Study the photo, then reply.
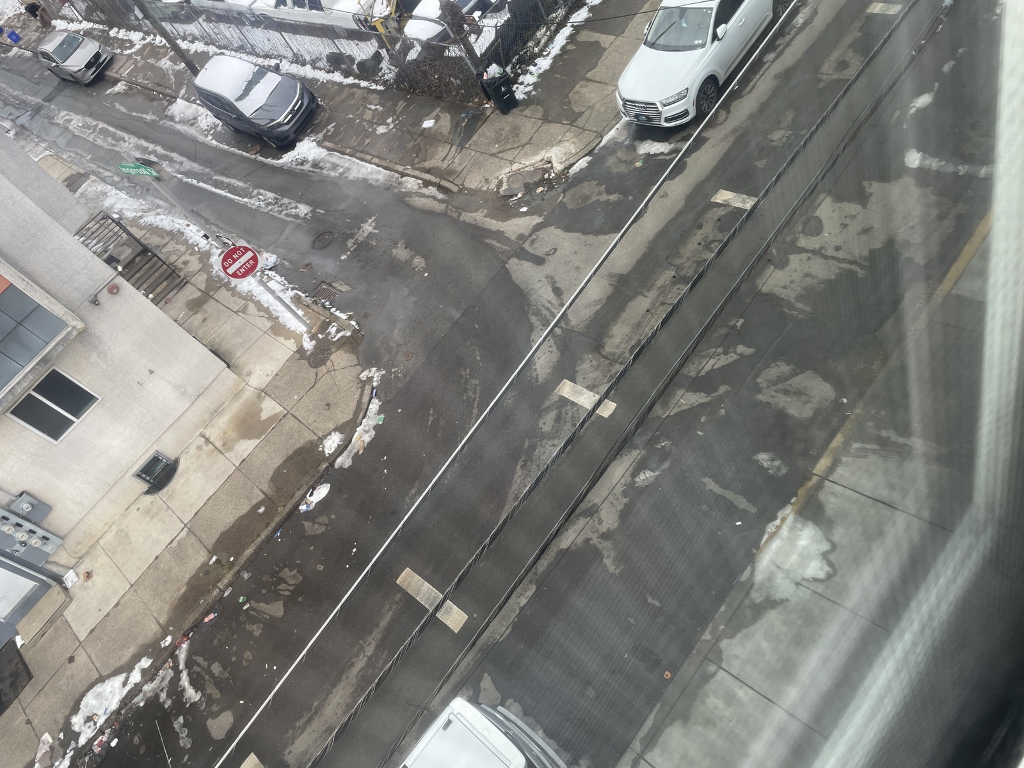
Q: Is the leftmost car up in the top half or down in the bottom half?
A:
top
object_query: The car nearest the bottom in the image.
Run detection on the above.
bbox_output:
[392,695,566,768]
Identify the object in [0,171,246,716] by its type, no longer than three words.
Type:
building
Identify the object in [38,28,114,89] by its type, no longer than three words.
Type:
car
